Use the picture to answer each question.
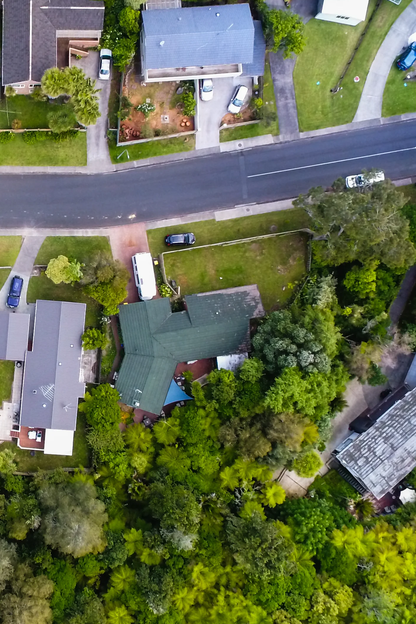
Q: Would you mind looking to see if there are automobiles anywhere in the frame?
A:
Yes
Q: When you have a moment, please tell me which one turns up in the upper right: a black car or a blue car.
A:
blue car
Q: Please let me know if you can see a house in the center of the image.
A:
Yes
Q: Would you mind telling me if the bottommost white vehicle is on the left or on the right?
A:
left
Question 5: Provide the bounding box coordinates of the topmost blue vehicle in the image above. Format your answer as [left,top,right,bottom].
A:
[399,42,416,69]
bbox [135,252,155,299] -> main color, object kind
white vehicle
